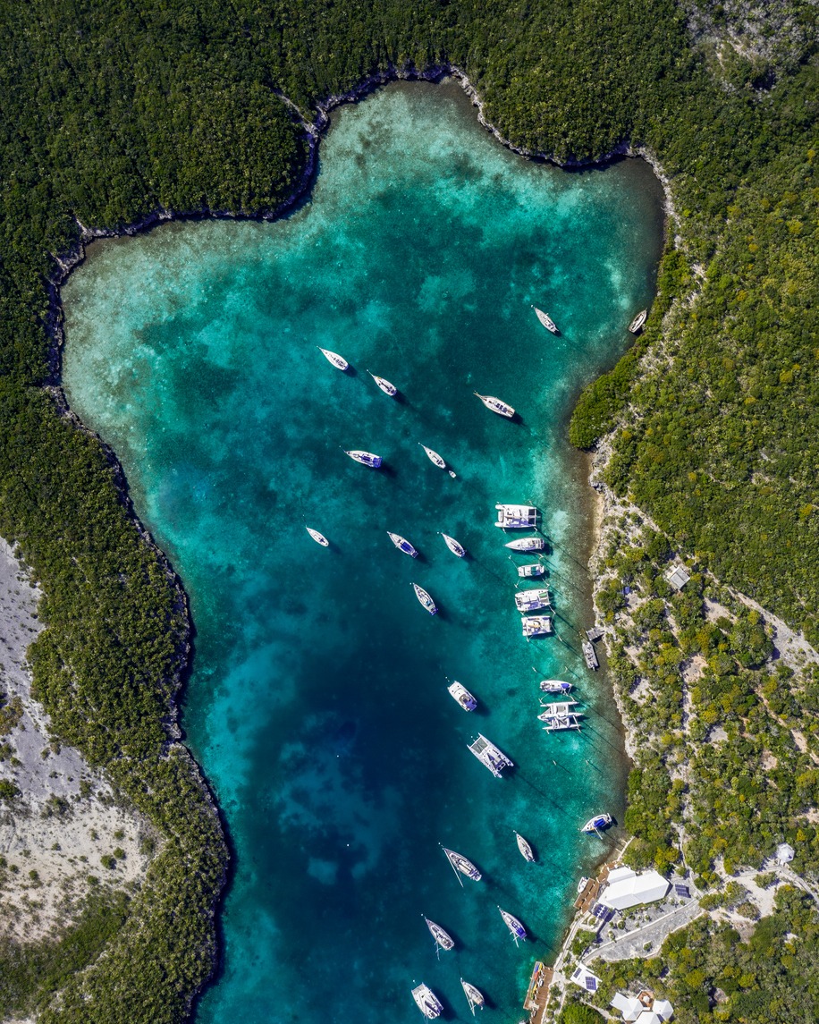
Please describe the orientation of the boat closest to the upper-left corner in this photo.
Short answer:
on a diagonal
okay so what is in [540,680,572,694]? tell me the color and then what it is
white boat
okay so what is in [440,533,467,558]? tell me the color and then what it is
white boat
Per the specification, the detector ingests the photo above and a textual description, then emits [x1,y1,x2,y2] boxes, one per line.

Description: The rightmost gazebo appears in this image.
[777,846,796,865]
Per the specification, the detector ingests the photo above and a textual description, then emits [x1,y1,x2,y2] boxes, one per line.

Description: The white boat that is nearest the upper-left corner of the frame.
[318,347,350,371]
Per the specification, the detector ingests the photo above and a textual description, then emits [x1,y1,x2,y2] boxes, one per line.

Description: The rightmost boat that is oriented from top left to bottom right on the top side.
[532,305,559,335]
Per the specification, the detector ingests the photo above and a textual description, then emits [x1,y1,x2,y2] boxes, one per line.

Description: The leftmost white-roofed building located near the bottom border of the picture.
[570,960,602,992]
